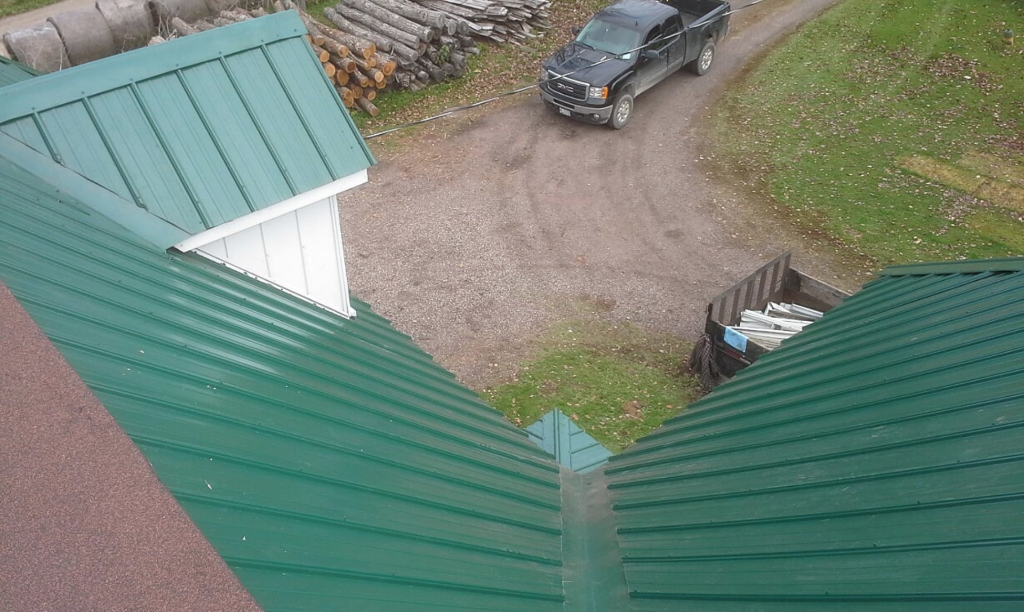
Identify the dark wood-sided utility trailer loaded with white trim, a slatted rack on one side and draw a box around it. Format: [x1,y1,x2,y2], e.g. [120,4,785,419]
[706,250,845,381]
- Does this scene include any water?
No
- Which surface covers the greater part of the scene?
buildings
